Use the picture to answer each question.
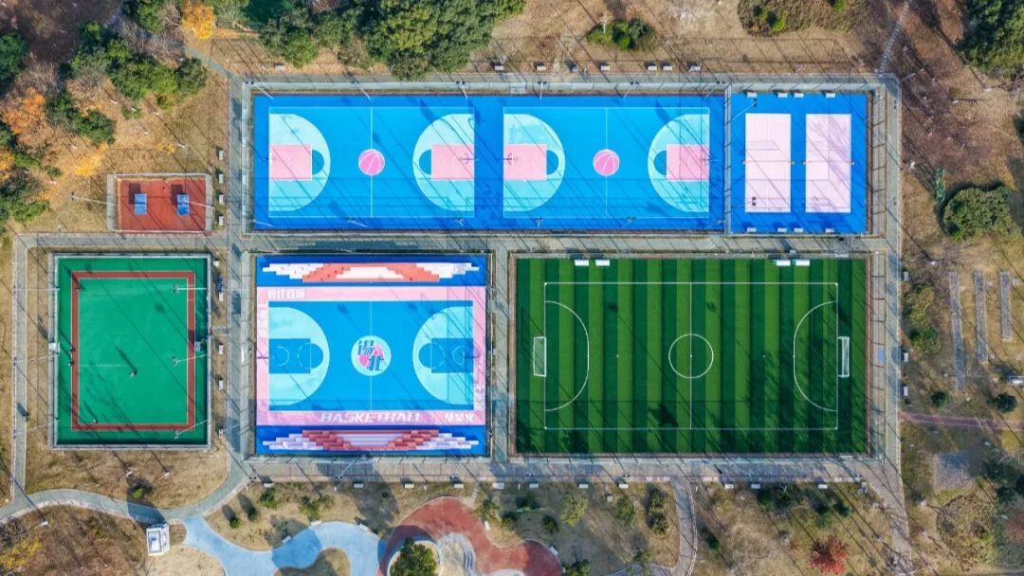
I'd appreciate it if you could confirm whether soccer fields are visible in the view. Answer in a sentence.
Yes, a soccer field is visible in the scene.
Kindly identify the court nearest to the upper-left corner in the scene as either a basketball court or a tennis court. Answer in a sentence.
I'd identify the court nearest to the upper-left corner as a tennis court.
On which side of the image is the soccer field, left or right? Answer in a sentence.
You can find the soccer field on the right side of the picture.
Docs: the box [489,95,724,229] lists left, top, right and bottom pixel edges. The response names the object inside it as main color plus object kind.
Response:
blue basketball court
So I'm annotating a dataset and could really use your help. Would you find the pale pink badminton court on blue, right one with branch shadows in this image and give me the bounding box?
[799,93,867,231]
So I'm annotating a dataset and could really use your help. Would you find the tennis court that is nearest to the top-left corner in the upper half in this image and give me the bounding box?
[106,174,213,232]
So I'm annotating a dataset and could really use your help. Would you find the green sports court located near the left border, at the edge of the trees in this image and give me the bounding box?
[50,254,210,448]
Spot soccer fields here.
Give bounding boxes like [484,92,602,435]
[517,259,867,454]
